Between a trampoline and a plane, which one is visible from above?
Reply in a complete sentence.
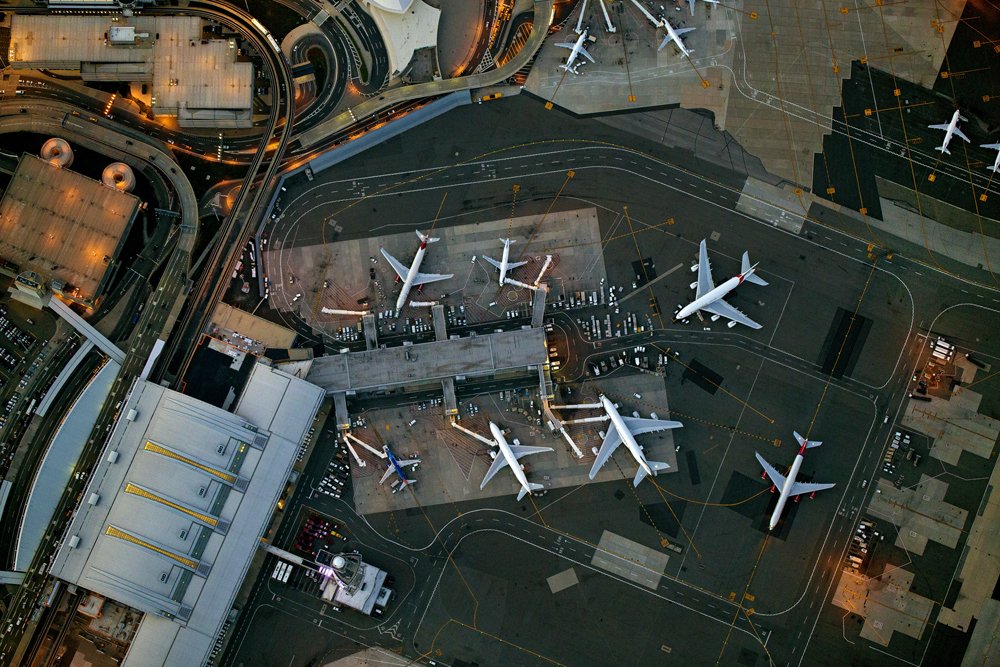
Looking from above, you can make out a plane.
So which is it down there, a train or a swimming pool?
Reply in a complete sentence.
This aerial view contains a train.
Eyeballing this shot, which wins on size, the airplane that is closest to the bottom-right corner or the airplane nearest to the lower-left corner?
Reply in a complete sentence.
The airplane that is closest to the bottom-right corner is bigger than the airplane nearest to the lower-left corner.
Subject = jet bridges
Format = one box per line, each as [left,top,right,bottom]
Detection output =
[558,425,584,459]
[550,401,603,410]
[534,254,552,287]
[451,421,494,447]
[342,435,367,468]
[560,414,611,425]
[574,0,588,34]
[600,0,614,33]
[503,277,539,291]
[321,308,369,317]
[408,301,438,311]
[632,0,661,29]
[345,431,387,461]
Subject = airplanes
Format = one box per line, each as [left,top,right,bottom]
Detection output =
[555,30,595,71]
[928,110,972,155]
[659,18,697,59]
[980,140,1000,173]
[754,435,839,529]
[480,422,554,500]
[481,237,528,286]
[377,448,421,489]
[676,242,769,330]
[380,232,454,310]
[586,395,682,486]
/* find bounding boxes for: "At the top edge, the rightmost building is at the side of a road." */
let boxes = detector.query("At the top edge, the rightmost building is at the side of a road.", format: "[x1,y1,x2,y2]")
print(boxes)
[370,0,441,85]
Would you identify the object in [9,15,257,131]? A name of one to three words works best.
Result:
building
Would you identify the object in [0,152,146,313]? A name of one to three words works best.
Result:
building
